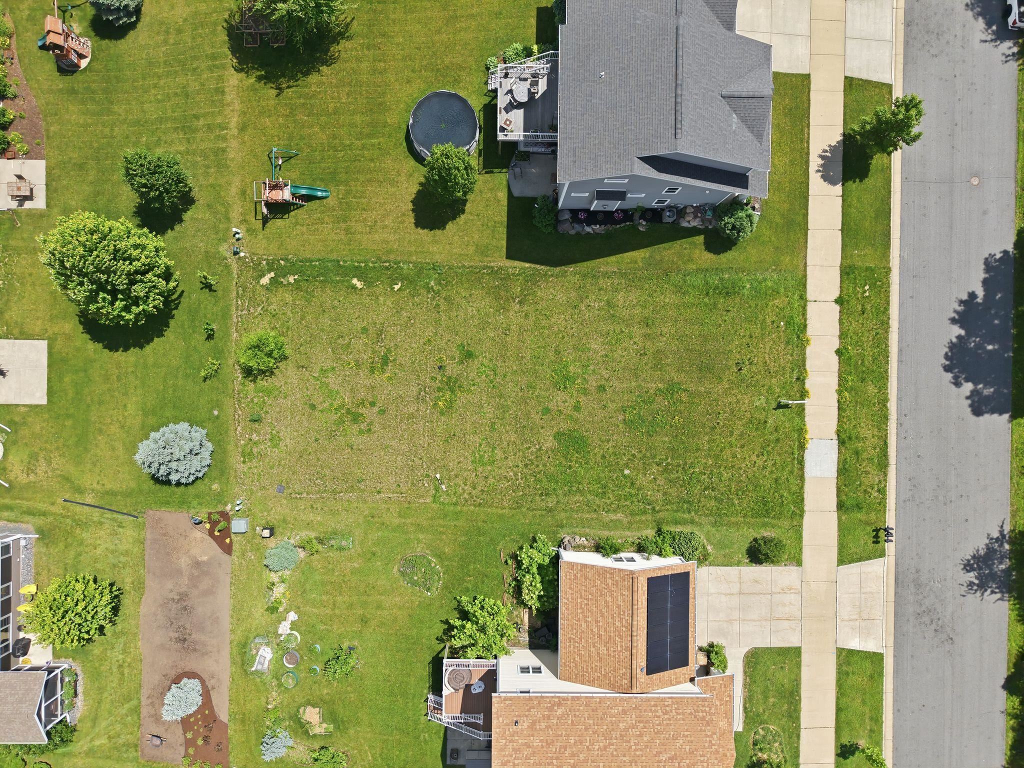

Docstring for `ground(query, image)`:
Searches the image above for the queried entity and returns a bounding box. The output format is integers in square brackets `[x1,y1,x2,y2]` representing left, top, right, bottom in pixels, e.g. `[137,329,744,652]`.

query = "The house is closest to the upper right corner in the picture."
[556,0,778,213]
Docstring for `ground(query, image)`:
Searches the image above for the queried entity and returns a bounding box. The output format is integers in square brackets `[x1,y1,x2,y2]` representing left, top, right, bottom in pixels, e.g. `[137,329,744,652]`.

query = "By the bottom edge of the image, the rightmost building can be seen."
[491,544,741,768]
